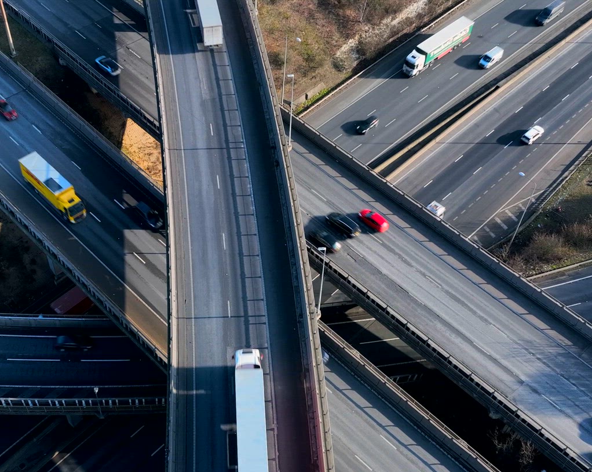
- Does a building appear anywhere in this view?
No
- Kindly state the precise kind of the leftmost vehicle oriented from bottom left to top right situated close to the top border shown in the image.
truck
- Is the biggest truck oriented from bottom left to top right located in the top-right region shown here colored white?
Yes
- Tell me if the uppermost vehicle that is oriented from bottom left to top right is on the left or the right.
right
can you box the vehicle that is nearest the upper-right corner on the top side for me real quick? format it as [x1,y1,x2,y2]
[539,1,563,23]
